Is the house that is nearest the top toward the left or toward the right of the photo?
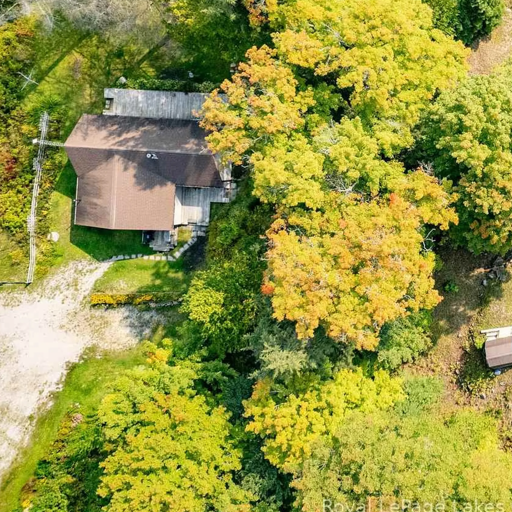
left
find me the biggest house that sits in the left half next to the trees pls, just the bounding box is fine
[64,114,230,230]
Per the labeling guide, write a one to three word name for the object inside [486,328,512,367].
shed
